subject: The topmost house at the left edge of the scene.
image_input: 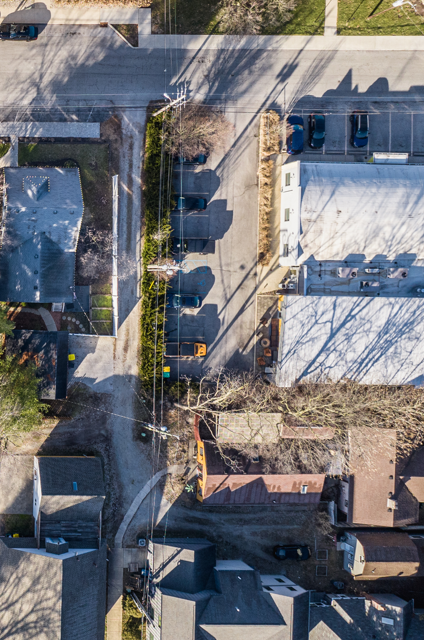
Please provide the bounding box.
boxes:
[0,167,84,303]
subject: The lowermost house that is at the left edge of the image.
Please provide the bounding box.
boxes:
[0,532,107,640]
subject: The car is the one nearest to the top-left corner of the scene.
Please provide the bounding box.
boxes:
[0,22,38,42]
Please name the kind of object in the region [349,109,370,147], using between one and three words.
car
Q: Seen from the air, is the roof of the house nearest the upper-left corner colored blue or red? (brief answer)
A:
blue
